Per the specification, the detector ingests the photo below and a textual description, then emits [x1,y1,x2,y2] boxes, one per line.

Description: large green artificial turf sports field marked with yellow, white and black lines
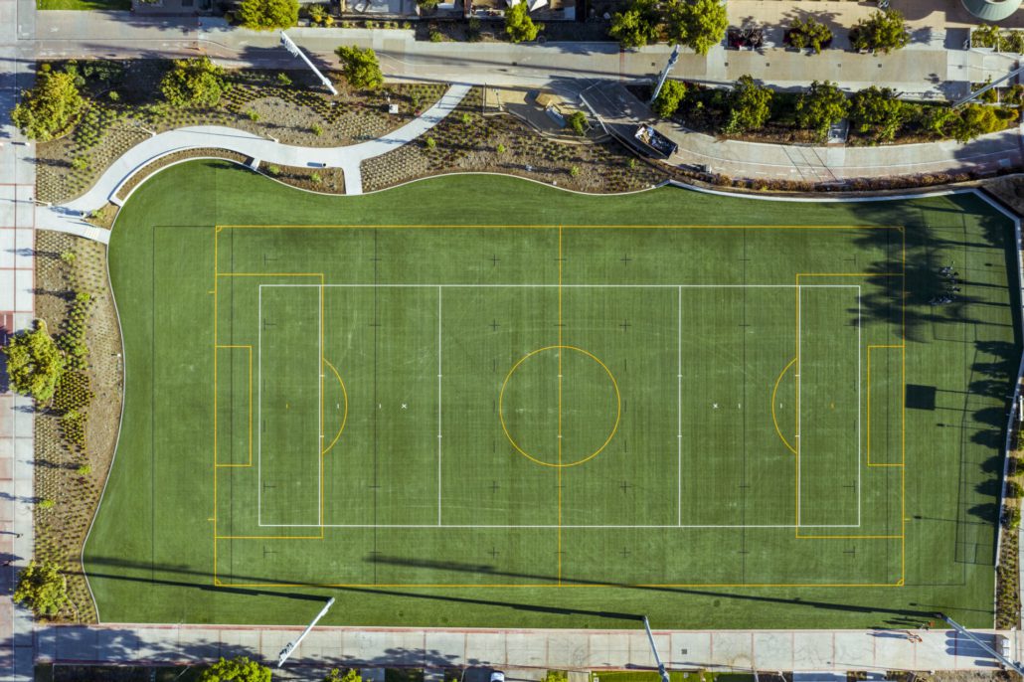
[83,159,1021,626]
